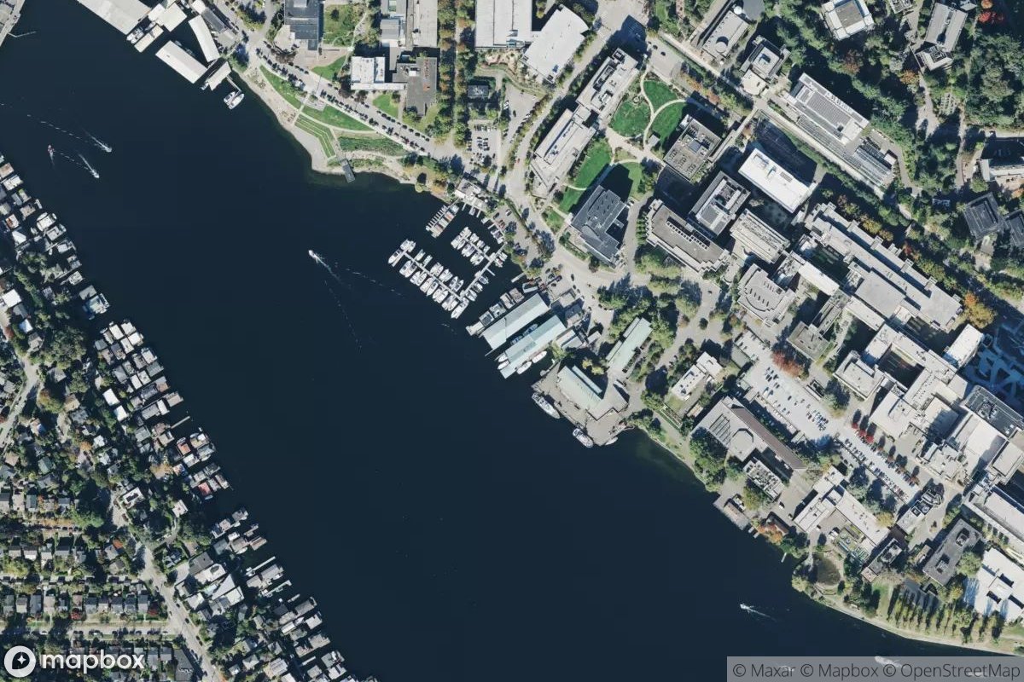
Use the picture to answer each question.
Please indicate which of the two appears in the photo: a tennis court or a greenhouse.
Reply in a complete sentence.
The image shows a greenhouse.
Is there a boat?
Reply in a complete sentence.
Yes, the frame does contain a boat.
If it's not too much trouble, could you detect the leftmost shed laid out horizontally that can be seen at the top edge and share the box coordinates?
[76,0,151,36]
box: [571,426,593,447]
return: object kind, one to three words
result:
ship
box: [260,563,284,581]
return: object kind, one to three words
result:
boat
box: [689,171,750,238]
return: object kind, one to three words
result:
building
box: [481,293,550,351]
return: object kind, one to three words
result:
shed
